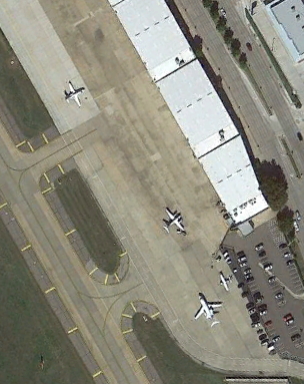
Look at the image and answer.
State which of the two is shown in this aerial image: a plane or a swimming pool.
plane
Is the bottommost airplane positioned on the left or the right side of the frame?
right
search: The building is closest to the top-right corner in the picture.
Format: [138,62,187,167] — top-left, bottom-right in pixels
[265,0,304,64]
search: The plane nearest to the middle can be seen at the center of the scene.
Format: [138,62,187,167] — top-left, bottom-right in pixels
[161,209,185,234]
